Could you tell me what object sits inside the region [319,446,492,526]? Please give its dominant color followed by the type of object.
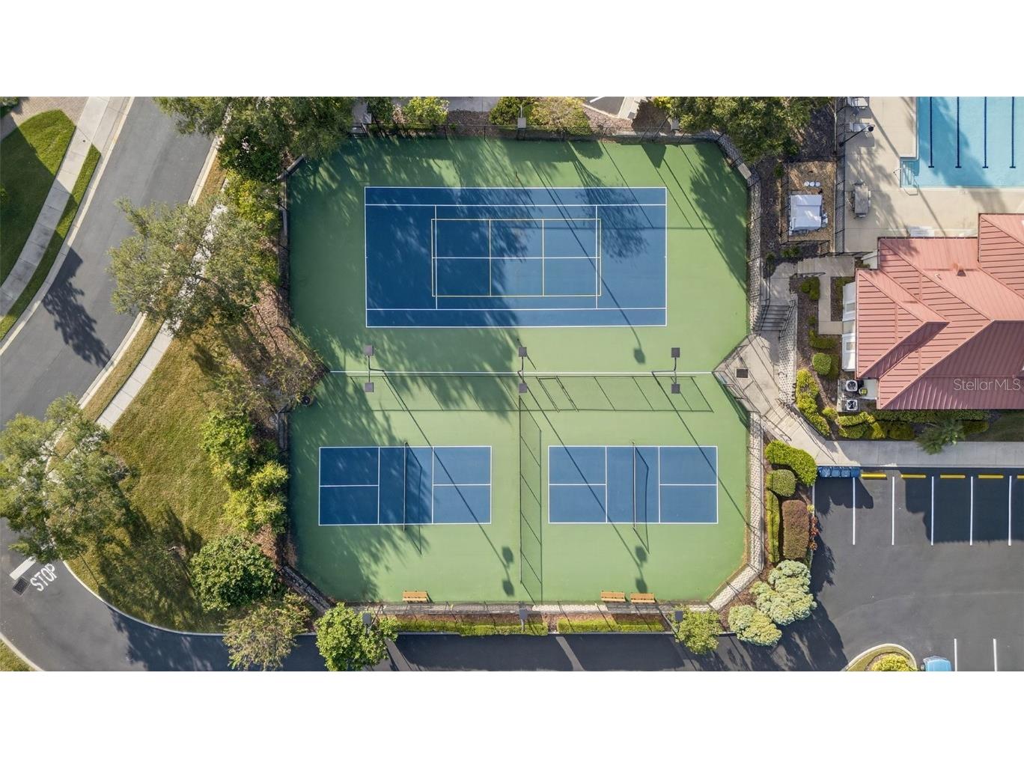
blue sports court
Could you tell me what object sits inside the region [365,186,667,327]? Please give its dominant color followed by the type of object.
blue tennis court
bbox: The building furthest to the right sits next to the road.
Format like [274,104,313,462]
[834,213,1024,416]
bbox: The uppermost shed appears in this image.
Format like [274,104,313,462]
[787,193,823,236]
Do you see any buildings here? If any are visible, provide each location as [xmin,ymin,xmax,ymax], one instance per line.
[834,213,1024,416]
[787,193,823,236]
